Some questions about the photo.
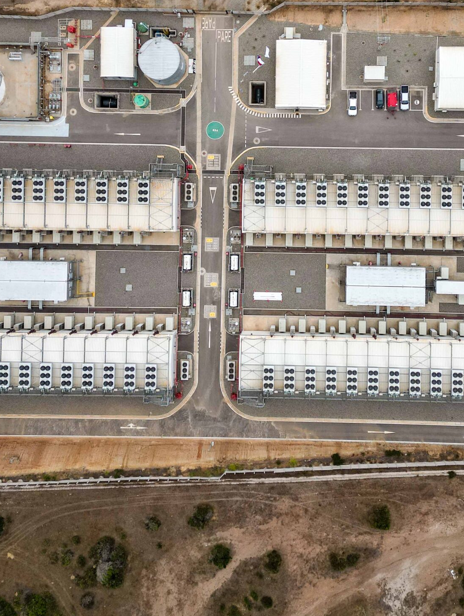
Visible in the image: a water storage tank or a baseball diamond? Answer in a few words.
water storage tank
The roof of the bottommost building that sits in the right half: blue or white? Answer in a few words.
white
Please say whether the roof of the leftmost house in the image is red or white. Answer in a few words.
white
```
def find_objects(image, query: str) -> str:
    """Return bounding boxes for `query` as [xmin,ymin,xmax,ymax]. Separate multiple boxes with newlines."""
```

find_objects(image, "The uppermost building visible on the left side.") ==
[101,25,136,80]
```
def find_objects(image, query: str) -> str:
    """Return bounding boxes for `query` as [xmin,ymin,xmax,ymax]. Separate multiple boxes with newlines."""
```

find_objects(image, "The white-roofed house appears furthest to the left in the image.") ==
[0,247,74,310]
